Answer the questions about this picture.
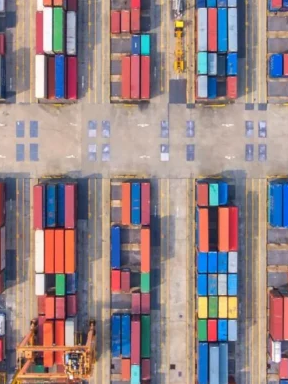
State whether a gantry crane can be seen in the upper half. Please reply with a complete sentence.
No, no gantry crane is visible in the upper half.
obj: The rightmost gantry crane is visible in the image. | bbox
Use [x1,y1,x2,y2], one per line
[17,319,98,382]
